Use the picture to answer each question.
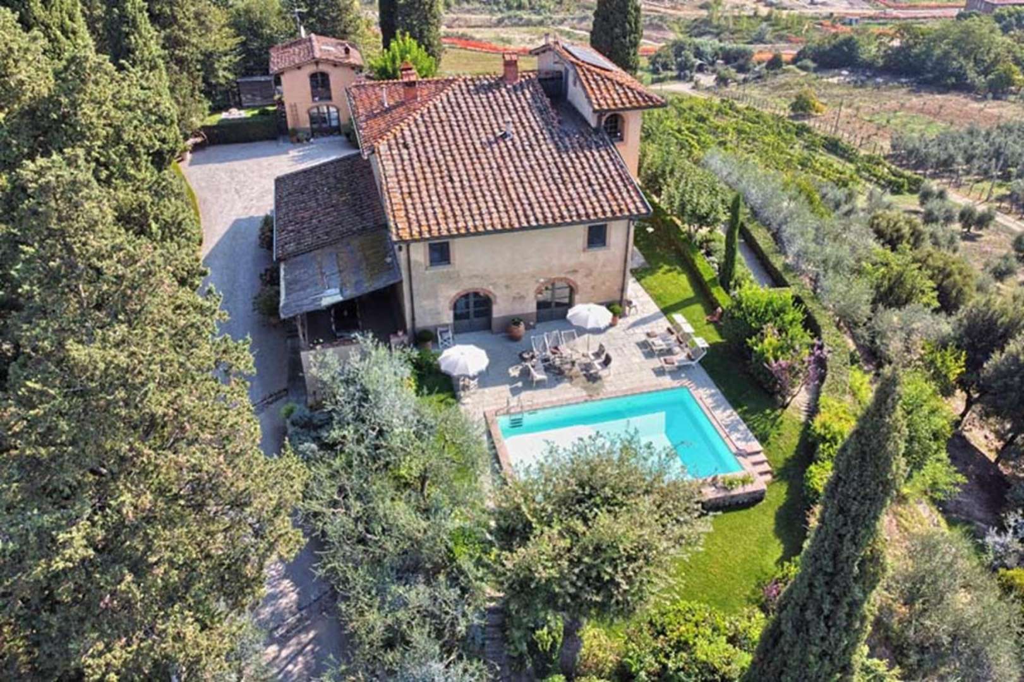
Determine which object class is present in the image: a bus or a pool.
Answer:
pool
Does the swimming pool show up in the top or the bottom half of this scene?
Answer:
bottom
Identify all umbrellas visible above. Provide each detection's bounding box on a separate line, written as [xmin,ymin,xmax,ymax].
[437,340,492,381]
[564,300,616,352]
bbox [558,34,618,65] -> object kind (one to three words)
solar panel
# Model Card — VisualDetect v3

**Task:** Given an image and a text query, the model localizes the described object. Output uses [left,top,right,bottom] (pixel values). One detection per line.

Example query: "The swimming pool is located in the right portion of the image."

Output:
[483,378,783,540]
